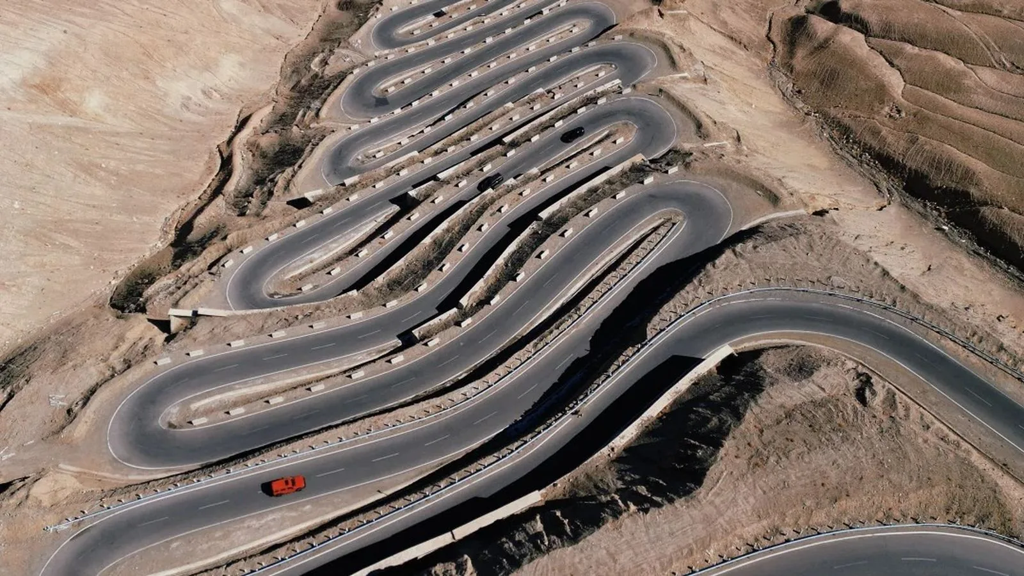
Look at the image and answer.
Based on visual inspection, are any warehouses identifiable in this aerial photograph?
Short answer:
No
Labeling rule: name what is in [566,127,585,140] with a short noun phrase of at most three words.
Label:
vehicle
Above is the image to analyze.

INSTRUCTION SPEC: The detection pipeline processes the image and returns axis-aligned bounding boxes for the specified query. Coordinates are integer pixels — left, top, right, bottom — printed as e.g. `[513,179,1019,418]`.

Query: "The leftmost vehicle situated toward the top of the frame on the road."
[485,173,504,188]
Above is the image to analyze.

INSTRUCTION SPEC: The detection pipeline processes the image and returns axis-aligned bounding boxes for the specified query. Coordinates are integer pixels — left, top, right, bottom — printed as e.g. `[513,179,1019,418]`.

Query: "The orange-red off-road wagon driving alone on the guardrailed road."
[273,477,305,495]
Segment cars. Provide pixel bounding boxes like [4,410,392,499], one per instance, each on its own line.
[485,173,504,188]
[273,477,305,495]
[566,127,585,140]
